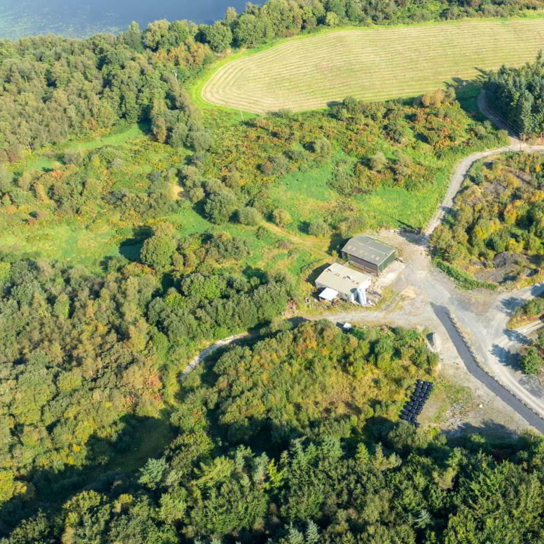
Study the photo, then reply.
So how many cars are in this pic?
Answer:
zero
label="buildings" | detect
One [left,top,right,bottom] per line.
[340,234,395,274]
[315,262,370,305]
